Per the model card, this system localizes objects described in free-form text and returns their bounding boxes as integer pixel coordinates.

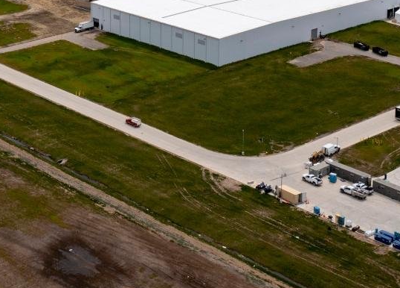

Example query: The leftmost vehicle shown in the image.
[73,19,97,33]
